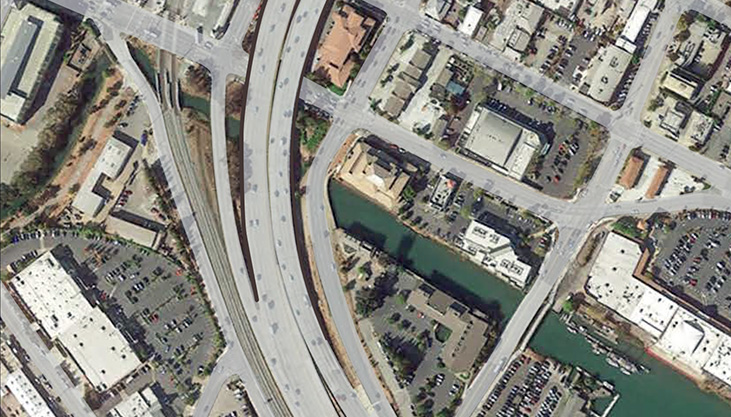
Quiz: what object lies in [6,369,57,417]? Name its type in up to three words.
shed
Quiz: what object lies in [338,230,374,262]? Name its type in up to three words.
building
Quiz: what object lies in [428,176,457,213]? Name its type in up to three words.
building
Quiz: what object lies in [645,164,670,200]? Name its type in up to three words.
house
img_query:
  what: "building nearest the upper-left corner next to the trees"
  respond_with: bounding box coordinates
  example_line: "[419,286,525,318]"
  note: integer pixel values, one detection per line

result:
[0,1,63,127]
